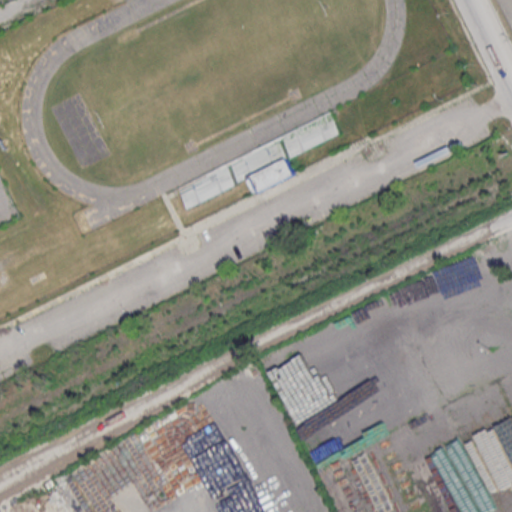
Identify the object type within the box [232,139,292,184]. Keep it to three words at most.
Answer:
building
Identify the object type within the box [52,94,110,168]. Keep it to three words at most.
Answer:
sports court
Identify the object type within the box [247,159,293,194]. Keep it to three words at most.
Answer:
building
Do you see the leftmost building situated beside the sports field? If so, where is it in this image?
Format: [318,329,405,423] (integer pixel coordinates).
[179,164,240,208]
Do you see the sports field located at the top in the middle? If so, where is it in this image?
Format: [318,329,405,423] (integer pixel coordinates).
[42,0,384,186]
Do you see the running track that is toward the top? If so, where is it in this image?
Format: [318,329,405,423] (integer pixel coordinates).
[20,0,406,230]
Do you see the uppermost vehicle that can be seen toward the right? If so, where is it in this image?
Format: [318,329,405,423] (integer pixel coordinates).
[488,45,506,75]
